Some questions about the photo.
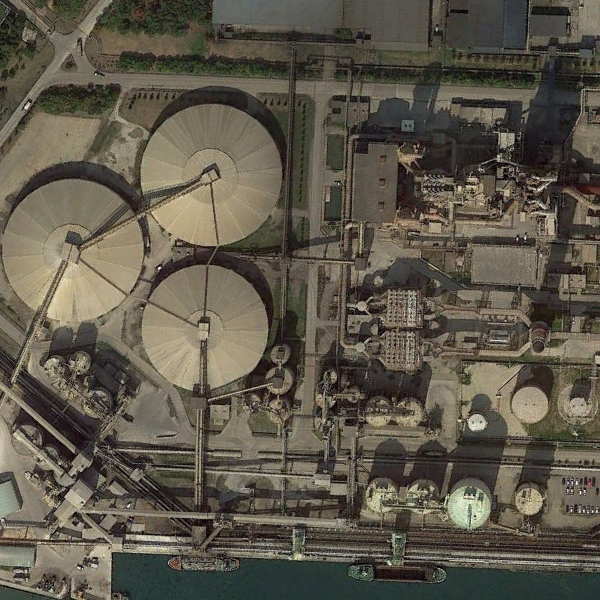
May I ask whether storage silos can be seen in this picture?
Yes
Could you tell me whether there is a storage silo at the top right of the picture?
No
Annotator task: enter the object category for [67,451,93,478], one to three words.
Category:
house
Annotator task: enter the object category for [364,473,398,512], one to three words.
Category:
silo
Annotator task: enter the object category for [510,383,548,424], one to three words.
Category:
storage tank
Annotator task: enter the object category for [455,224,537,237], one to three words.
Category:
building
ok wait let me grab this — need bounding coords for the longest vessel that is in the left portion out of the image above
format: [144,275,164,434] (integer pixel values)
[158,553,246,572]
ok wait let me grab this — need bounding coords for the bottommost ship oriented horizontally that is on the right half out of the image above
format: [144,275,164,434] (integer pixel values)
[337,561,461,583]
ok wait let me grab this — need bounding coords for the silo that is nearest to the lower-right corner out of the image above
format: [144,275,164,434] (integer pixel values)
[513,481,543,516]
